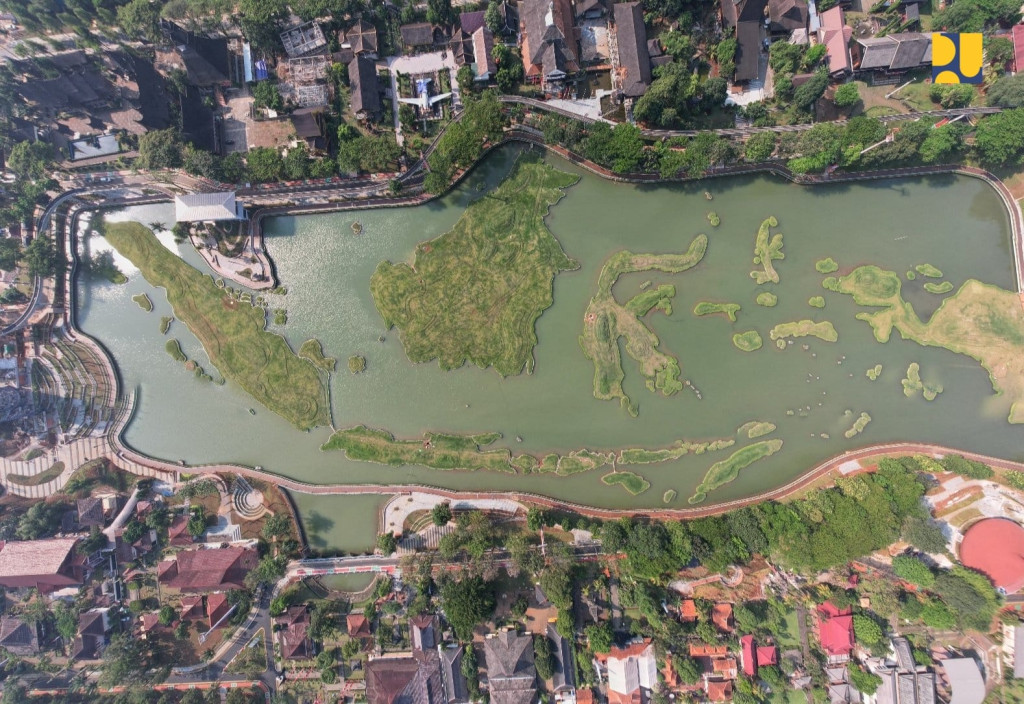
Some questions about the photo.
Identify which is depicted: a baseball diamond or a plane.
plane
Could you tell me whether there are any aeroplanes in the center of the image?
No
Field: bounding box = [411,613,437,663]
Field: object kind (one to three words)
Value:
house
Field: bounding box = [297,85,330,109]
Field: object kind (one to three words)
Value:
building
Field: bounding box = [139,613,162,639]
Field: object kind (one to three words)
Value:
shed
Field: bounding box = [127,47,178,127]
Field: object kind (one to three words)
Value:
house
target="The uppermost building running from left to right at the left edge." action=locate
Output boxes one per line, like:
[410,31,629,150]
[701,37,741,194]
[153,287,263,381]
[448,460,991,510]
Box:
[48,49,93,72]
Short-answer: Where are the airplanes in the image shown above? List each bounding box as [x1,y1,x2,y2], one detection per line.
[398,75,452,112]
